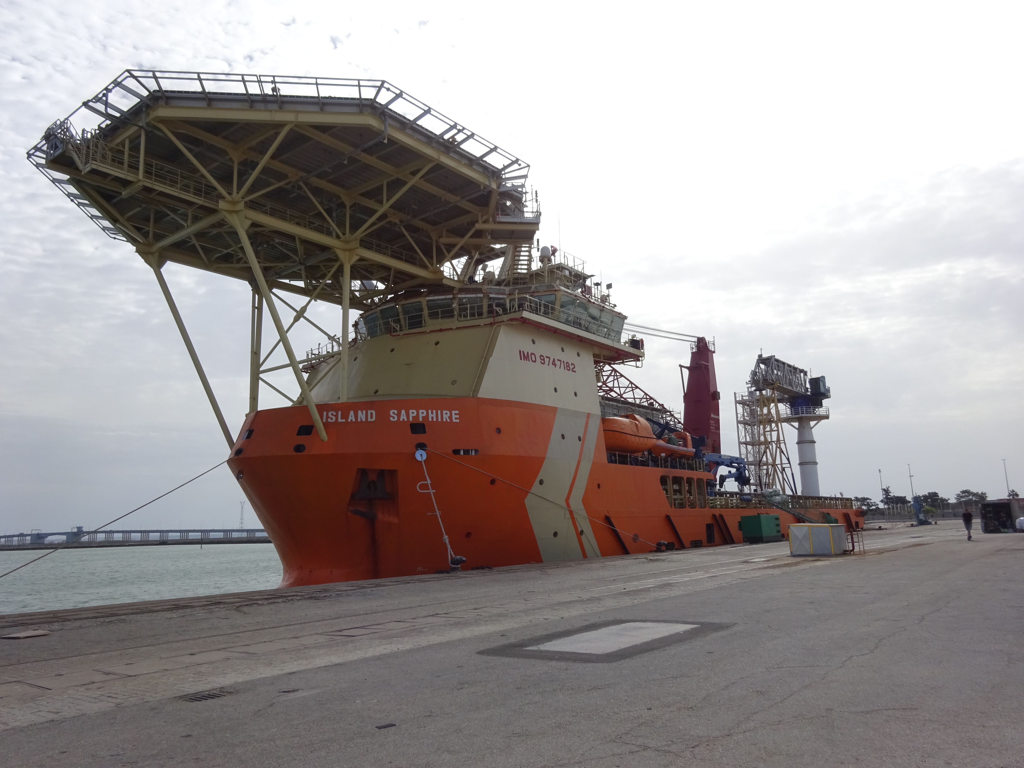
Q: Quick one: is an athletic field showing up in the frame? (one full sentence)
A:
No, there appears to be no athletic field in this shot.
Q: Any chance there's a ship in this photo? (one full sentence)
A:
Yes, a ship is visible in the scene.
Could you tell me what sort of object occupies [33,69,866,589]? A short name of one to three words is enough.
ship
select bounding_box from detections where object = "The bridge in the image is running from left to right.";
[0,521,263,543]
